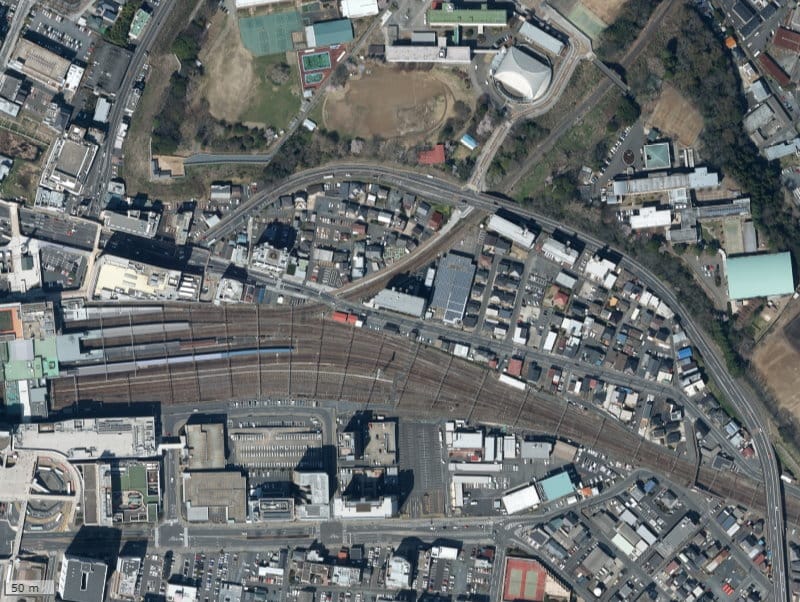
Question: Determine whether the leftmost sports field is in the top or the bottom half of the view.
top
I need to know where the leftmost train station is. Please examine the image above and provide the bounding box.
[4,333,59,380]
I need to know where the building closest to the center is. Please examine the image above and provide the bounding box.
[373,287,427,317]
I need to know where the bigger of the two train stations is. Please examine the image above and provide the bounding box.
[15,414,155,458]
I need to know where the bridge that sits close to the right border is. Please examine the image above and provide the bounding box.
[733,396,787,602]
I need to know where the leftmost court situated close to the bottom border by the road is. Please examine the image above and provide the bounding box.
[503,557,546,602]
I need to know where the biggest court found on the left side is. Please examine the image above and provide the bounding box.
[240,12,303,56]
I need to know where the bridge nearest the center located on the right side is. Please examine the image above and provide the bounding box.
[455,186,505,214]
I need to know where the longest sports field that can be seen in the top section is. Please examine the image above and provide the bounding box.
[320,74,459,143]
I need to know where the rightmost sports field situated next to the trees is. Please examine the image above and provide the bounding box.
[757,312,800,423]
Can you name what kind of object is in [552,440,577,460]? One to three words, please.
shed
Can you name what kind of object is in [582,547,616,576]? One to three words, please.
building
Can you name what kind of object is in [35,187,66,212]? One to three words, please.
building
